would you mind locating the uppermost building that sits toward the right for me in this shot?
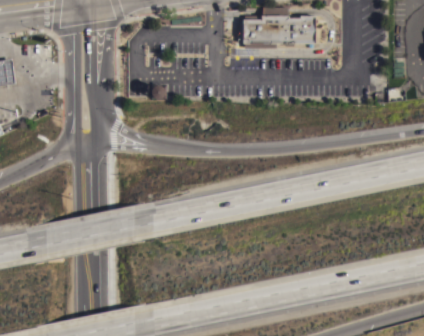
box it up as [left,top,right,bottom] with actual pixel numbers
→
[243,8,318,48]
